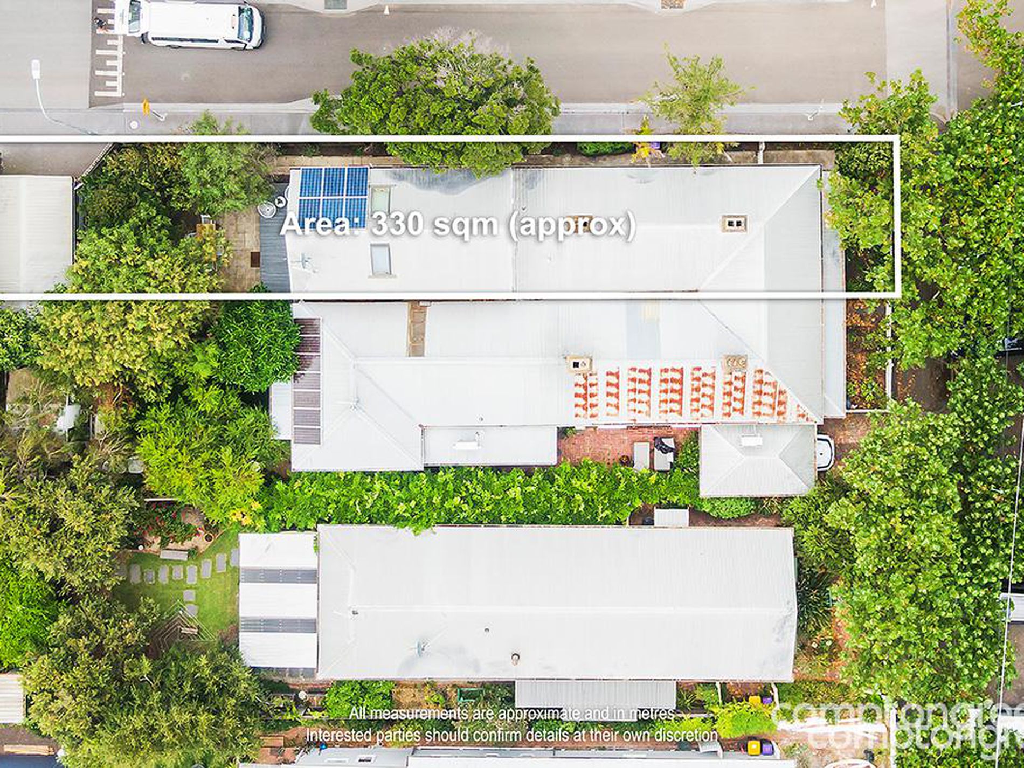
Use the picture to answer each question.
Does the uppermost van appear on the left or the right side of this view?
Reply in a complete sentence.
It is on the left.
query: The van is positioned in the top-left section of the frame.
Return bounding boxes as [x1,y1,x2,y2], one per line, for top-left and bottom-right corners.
[114,0,267,53]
